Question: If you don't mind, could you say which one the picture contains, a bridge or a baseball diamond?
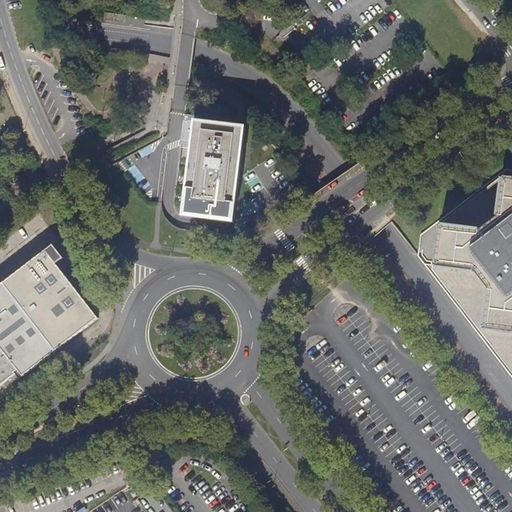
bridge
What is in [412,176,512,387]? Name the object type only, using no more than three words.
building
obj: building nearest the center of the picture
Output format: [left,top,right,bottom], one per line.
[180,118,244,222]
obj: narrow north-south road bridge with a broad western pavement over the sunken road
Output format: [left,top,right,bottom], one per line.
[166,0,199,113]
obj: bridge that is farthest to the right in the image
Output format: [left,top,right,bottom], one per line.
[307,161,404,248]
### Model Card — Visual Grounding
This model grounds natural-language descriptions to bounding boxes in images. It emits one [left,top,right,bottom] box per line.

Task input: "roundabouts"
[120,260,265,405]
